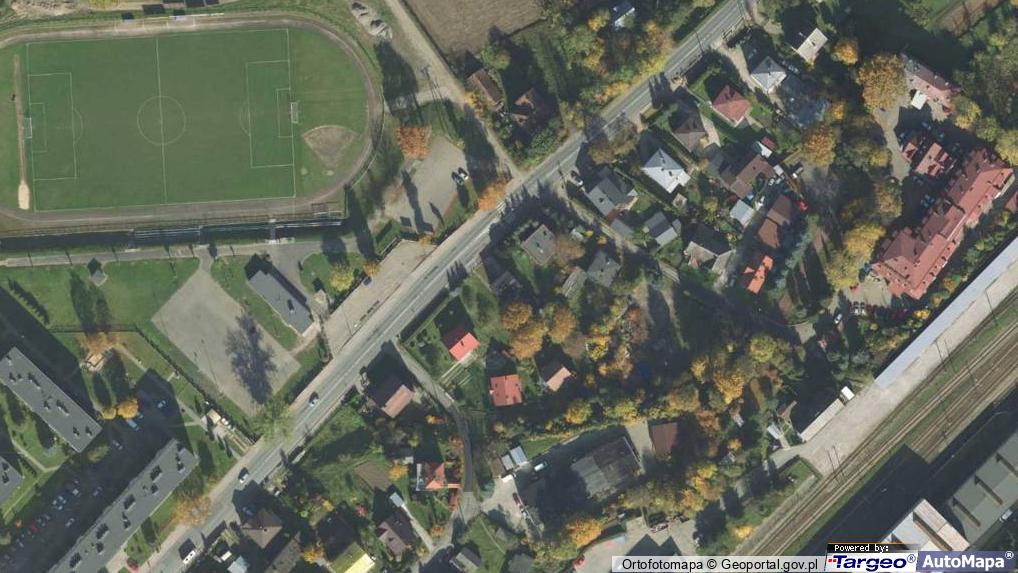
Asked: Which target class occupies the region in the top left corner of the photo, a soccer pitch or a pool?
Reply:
soccer pitch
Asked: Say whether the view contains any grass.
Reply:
Yes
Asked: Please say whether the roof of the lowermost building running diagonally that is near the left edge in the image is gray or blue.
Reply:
gray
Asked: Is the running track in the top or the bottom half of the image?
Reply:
top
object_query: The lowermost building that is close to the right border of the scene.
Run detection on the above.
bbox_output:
[850,499,969,573]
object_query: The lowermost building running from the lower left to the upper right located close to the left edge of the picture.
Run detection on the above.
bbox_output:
[36,439,199,573]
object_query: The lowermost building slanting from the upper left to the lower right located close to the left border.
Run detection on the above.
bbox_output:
[0,345,102,454]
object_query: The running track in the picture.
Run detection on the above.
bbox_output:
[0,13,385,225]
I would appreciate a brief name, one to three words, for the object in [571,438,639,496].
building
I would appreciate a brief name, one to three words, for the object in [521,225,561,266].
house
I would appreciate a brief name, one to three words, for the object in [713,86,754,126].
house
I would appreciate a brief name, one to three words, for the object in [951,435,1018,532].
building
